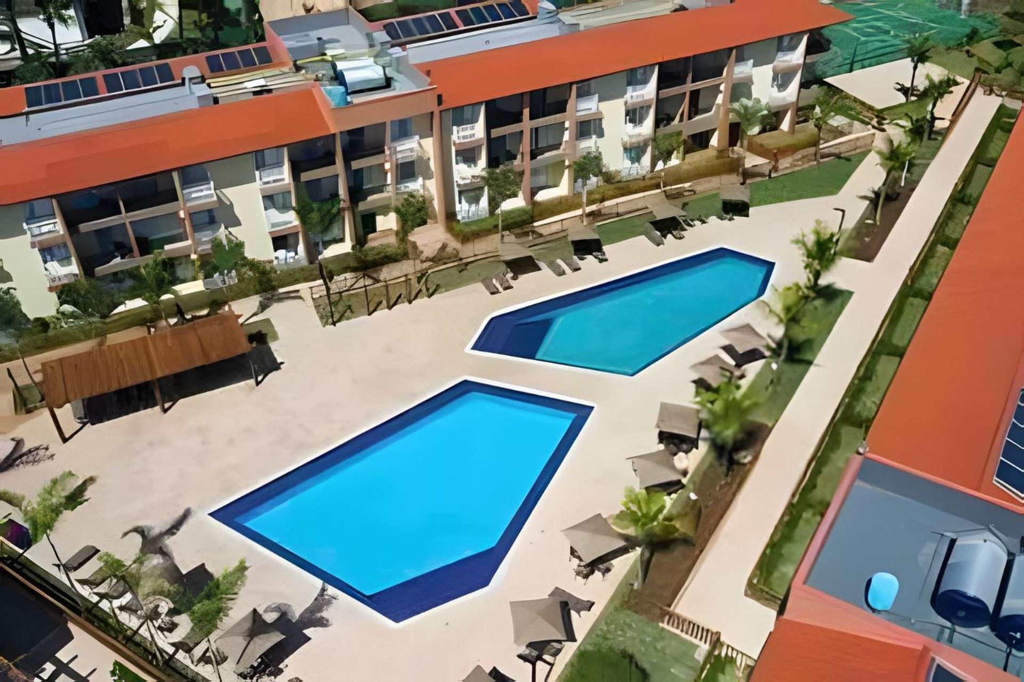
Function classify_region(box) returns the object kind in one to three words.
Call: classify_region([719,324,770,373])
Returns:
umbrella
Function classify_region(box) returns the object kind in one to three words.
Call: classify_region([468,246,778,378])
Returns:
swimming pool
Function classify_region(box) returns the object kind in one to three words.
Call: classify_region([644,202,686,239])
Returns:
umbrella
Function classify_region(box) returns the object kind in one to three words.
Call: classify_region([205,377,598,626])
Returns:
swimming pool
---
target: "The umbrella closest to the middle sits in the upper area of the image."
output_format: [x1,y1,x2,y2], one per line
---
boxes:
[491,245,531,284]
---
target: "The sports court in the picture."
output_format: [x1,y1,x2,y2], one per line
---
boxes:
[809,0,1010,84]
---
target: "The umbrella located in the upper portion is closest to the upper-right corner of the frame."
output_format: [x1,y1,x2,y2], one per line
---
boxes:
[710,184,752,221]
